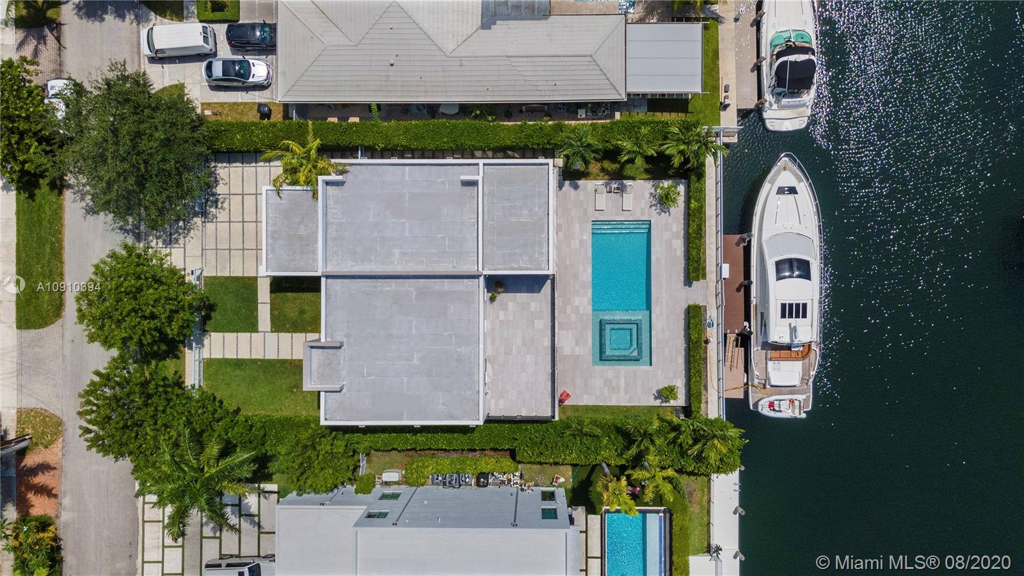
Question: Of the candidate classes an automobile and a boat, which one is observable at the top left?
automobile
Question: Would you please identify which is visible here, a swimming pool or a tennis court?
swimming pool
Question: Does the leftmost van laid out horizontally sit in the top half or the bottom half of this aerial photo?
top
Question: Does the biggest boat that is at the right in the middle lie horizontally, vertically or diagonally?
vertically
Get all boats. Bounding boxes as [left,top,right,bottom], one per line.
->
[748,151,823,410]
[757,0,817,130]
[758,395,809,420]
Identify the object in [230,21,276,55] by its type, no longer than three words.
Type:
car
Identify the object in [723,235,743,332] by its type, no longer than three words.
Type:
pier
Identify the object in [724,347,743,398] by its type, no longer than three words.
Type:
pier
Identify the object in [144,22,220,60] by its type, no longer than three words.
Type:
van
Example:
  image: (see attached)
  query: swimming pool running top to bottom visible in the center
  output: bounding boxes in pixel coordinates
[591,221,651,366]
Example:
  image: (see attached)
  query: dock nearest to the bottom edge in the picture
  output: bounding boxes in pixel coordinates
[712,471,739,576]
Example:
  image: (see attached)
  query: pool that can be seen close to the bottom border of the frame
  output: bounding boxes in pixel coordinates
[600,505,676,576]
